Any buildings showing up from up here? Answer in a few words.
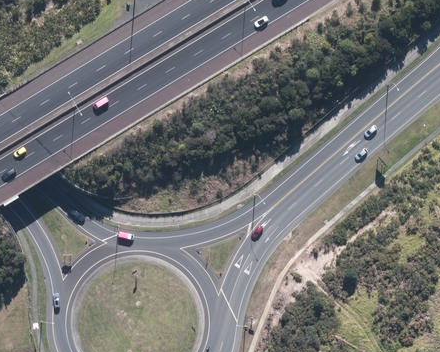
No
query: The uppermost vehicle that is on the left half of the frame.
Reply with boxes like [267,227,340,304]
[94,96,110,108]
